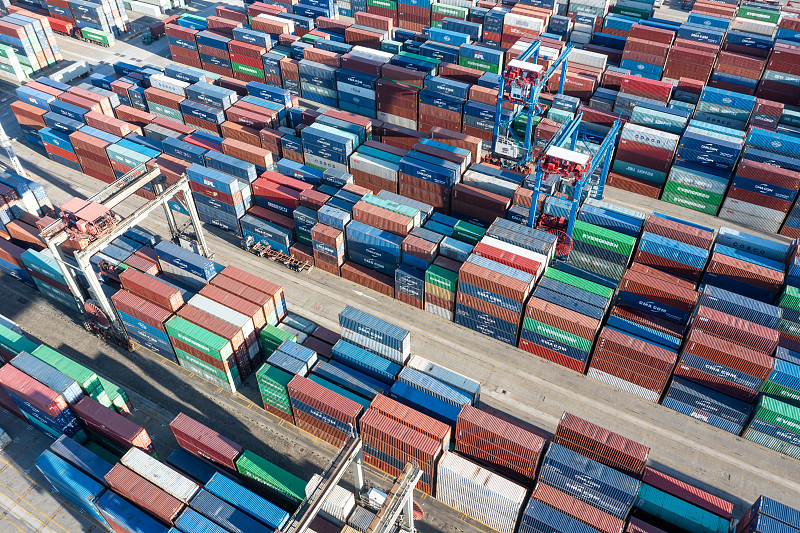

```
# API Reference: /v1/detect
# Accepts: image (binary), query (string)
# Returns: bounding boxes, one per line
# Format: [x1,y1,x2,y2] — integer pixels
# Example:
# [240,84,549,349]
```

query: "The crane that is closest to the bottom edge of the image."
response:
[269,427,430,533]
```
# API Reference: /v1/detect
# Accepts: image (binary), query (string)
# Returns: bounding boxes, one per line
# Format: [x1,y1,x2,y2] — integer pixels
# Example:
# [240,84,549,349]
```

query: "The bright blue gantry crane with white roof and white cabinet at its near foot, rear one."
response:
[489,27,579,167]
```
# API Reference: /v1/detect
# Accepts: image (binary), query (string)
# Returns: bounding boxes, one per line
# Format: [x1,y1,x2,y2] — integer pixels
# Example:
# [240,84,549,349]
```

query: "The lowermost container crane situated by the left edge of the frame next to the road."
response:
[26,154,223,349]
